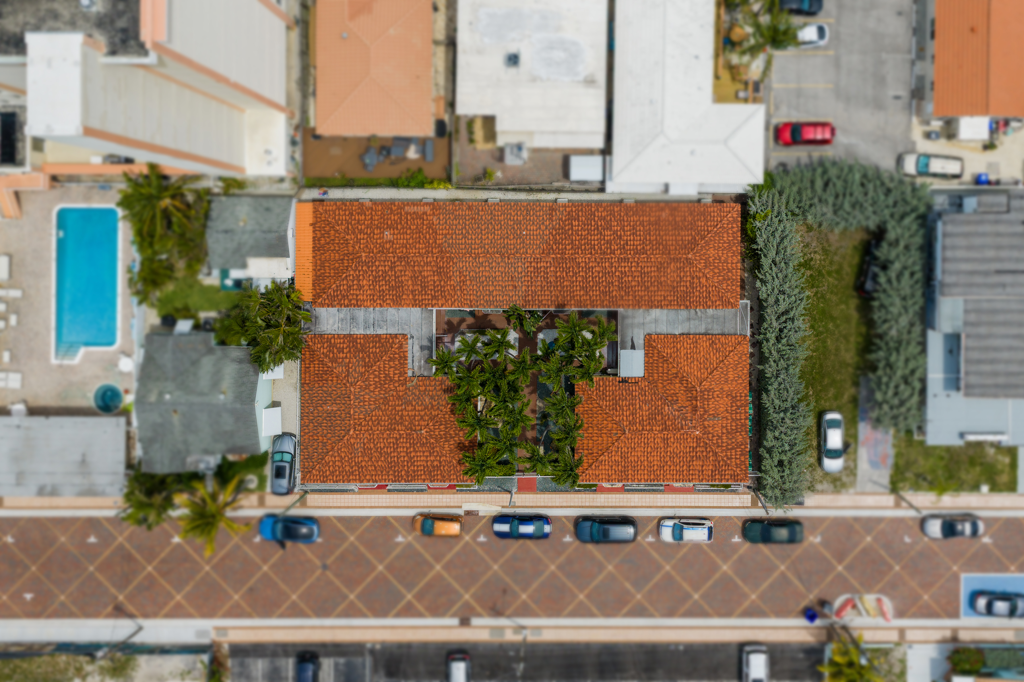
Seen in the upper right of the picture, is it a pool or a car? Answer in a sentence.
Looking in the upper right of the picture, you will find a car.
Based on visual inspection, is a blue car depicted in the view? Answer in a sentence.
Yes, there's a blue car here.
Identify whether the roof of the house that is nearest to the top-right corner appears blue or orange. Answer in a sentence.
The roof of the house that is nearest to the top-right corner looks orange in the image.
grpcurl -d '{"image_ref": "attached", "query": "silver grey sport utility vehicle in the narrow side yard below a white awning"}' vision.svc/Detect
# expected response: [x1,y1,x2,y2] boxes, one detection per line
[269,431,299,494]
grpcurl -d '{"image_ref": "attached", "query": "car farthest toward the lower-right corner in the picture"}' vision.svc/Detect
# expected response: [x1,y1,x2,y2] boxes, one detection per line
[966,587,1024,620]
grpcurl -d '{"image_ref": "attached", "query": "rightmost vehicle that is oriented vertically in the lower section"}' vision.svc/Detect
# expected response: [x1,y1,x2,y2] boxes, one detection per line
[816,410,846,471]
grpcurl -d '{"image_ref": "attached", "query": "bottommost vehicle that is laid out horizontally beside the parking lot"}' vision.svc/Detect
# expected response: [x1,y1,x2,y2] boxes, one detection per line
[894,150,965,180]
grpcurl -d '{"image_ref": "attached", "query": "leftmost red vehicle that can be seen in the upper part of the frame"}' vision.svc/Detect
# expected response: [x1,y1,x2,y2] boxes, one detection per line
[773,118,839,147]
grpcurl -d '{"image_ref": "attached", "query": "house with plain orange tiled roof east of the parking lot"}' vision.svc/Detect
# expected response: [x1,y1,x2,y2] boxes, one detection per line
[917,0,1024,117]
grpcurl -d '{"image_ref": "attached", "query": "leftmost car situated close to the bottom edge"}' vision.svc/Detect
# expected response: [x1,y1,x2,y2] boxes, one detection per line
[295,647,323,682]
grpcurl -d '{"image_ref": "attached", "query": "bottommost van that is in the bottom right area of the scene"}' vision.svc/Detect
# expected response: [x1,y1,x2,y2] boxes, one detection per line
[740,640,769,682]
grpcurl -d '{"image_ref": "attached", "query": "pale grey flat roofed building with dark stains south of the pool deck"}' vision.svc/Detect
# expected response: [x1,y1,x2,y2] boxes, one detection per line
[0,408,137,495]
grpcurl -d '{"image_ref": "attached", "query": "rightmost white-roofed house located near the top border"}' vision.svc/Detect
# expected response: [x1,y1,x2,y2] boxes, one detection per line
[609,0,765,192]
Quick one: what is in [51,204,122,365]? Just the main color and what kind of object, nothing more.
blue swimming pool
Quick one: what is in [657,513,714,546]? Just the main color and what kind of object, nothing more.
white car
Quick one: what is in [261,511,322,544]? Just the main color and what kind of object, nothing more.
blue car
